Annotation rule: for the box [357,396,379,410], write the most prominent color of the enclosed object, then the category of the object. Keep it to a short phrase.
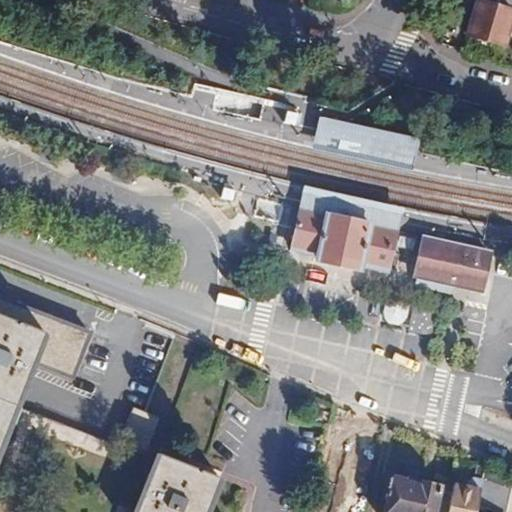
white car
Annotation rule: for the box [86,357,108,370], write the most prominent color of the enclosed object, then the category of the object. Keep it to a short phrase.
white vehicle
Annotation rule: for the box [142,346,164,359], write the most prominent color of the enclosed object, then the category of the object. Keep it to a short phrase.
white vehicle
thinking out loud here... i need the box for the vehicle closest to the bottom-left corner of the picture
[72,378,94,392]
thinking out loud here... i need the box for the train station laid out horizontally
[0,42,512,237]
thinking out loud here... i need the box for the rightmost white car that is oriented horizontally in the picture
[490,72,510,84]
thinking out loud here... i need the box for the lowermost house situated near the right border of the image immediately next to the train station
[414,234,494,298]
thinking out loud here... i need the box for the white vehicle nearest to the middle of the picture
[215,292,252,312]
